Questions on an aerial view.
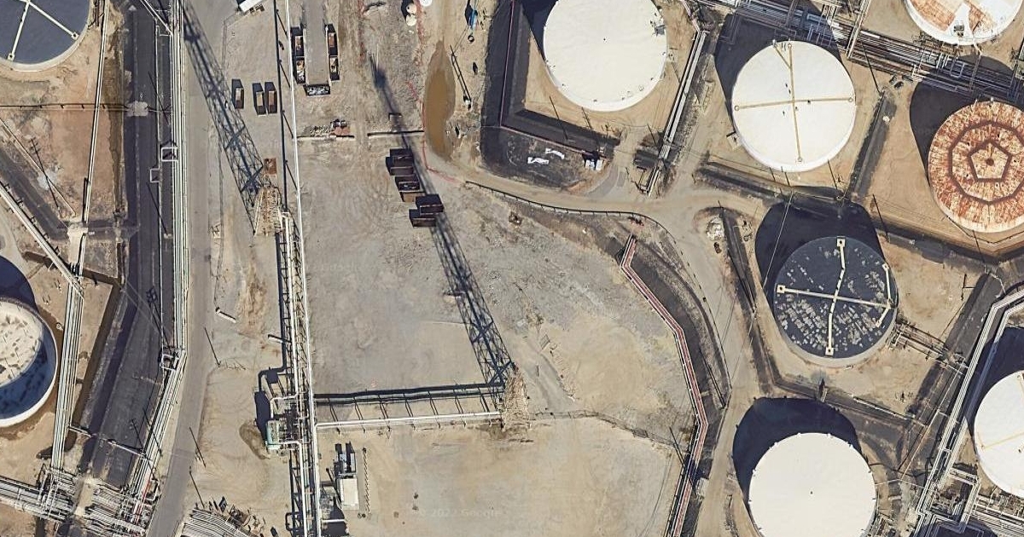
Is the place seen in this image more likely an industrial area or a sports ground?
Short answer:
industrial area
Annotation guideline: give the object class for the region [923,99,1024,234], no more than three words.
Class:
storage tank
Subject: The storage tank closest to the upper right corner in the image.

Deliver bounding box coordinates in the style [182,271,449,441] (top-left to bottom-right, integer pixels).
[901,0,1023,54]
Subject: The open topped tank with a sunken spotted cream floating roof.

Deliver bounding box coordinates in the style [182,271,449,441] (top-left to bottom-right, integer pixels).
[0,295,63,436]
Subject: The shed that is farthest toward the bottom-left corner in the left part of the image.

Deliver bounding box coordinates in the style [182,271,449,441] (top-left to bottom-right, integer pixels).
[340,449,361,511]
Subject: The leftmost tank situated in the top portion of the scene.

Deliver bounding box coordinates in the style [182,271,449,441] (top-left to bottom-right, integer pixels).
[0,0,95,72]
